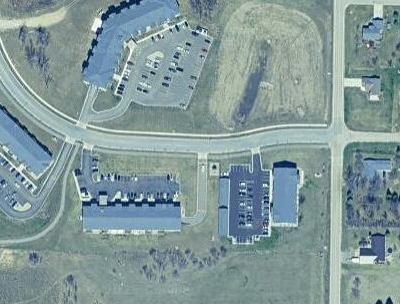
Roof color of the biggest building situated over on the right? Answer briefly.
blue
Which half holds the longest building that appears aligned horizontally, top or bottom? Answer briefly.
bottom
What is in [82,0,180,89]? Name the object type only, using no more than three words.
building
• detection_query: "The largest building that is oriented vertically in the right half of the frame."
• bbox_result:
[270,168,299,228]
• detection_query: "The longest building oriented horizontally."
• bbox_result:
[83,195,181,236]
